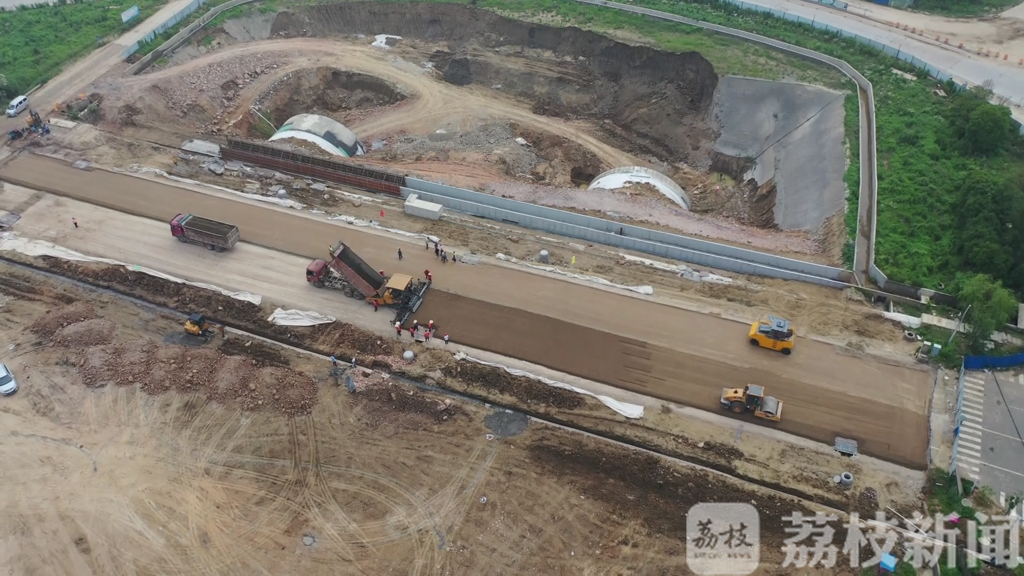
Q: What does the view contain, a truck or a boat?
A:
truck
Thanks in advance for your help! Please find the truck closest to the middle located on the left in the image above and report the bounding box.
[301,242,385,302]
